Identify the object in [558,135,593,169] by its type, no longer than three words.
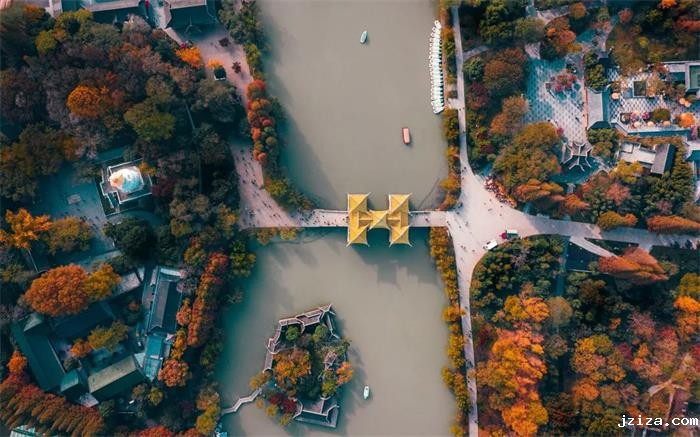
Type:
building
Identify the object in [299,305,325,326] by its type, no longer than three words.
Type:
building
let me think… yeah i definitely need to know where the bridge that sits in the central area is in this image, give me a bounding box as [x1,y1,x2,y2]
[305,192,448,248]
